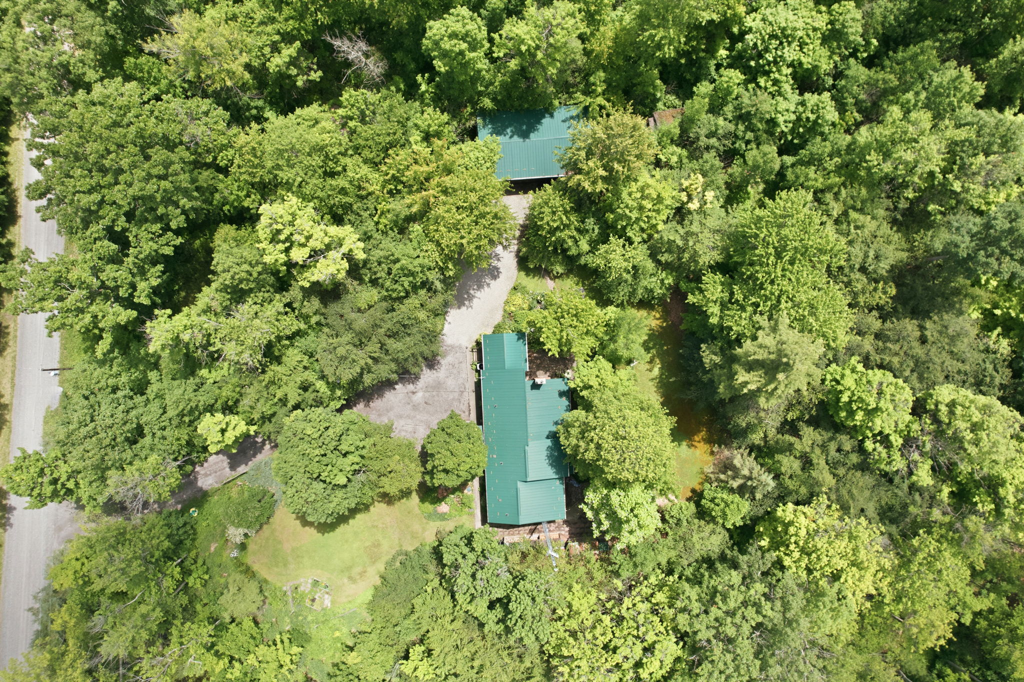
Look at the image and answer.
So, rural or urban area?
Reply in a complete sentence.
It looks rural.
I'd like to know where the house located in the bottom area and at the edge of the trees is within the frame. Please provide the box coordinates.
[474,333,576,525]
